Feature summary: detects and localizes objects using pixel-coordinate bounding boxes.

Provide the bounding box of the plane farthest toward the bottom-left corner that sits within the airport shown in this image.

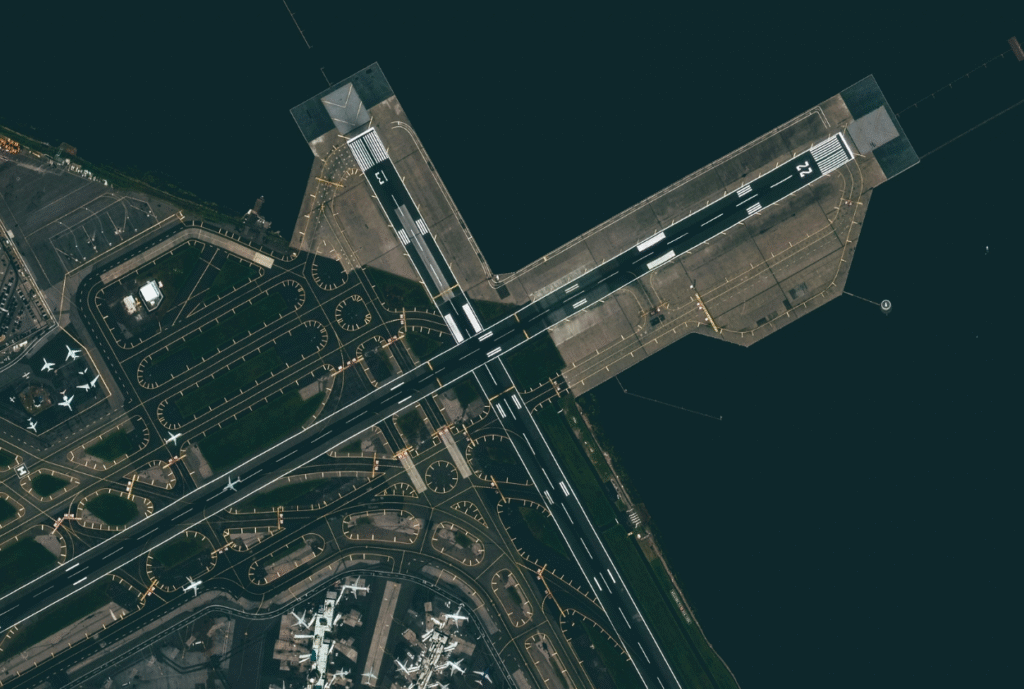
[182,578,201,597]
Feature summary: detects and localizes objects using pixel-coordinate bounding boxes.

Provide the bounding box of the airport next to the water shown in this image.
[0,135,737,689]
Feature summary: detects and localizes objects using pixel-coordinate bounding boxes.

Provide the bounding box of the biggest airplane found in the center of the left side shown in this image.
[75,370,99,396]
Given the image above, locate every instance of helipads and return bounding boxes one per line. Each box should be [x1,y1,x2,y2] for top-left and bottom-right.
[13,463,30,479]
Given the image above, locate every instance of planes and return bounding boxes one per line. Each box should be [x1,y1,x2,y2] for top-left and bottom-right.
[334,668,351,680]
[223,477,242,492]
[26,417,38,432]
[448,660,467,678]
[288,609,307,628]
[41,358,56,374]
[361,666,378,685]
[438,683,454,689]
[65,345,81,362]
[57,390,74,412]
[442,607,469,629]
[182,578,201,597]
[394,658,410,675]
[75,370,99,396]
[472,666,492,687]
[344,577,370,601]
[163,433,181,447]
